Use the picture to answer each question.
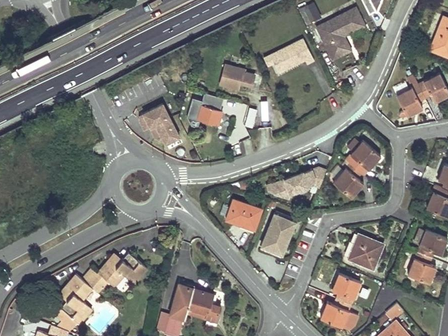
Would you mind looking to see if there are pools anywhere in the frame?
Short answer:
Yes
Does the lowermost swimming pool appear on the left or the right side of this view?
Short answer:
left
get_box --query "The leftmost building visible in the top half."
[139,105,181,146]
